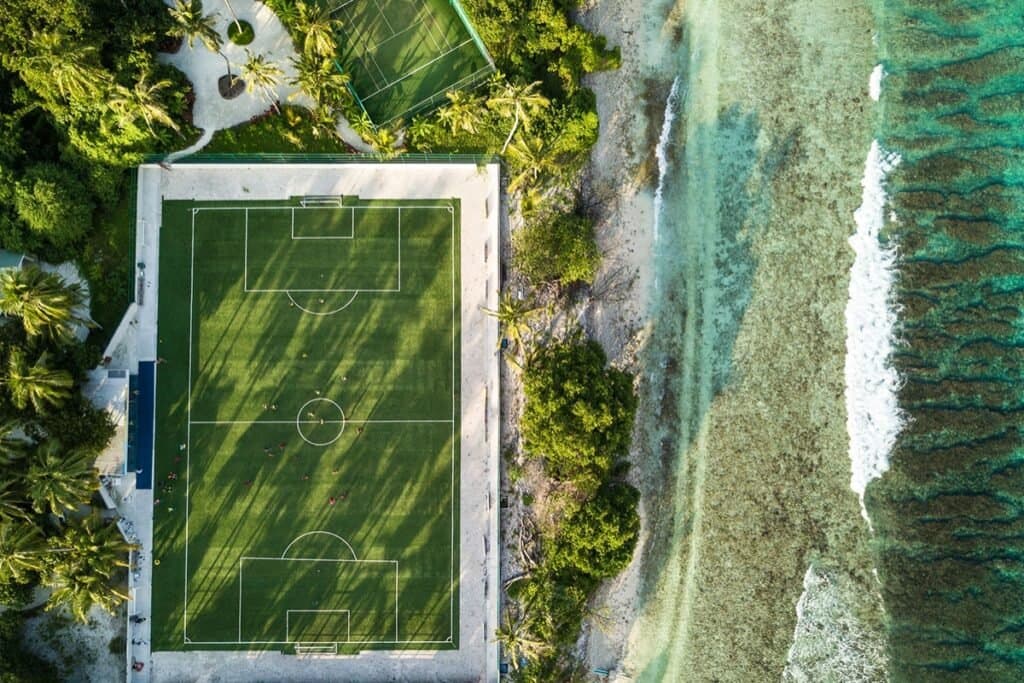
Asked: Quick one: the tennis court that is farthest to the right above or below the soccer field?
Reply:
above it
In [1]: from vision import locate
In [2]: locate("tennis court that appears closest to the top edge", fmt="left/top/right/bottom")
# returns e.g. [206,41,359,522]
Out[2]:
[307,0,492,132]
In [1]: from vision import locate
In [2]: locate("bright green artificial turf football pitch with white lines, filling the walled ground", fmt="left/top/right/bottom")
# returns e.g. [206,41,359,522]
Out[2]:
[152,195,461,655]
